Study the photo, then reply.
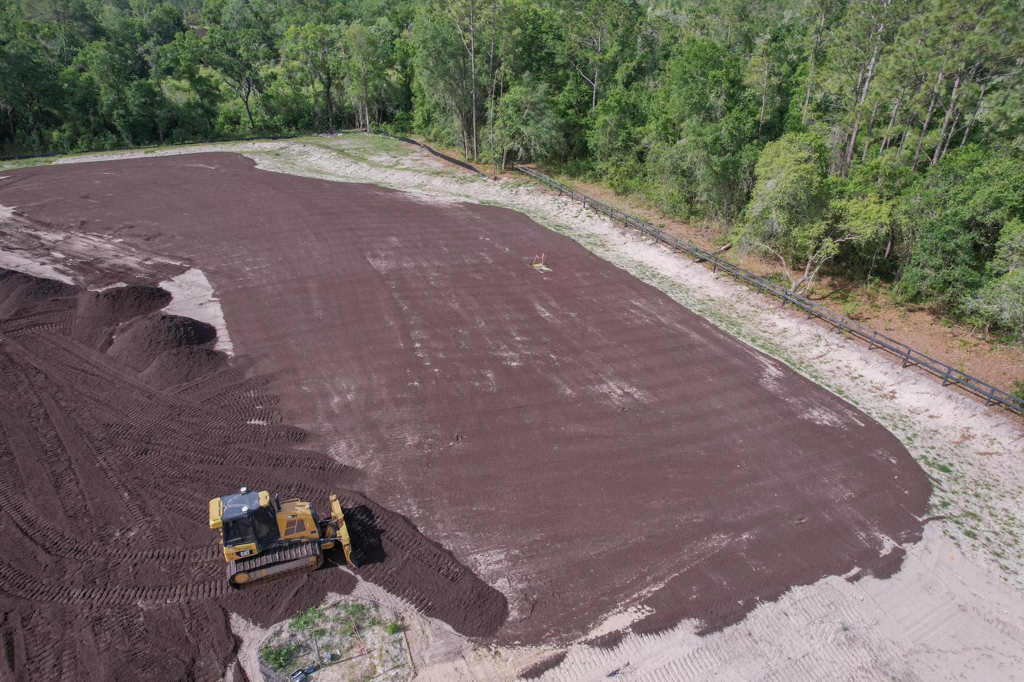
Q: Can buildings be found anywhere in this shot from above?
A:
No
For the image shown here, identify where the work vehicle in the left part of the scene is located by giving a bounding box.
[212,491,365,591]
